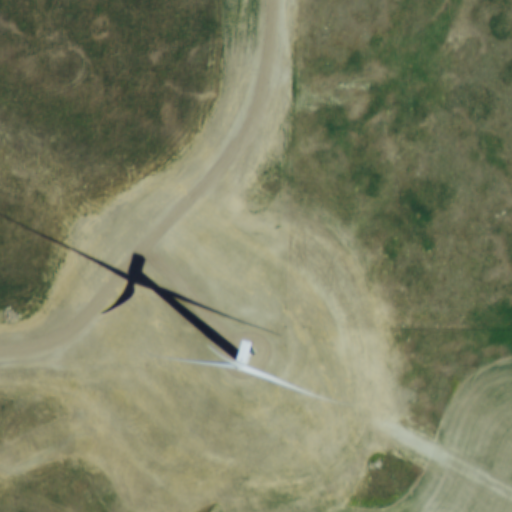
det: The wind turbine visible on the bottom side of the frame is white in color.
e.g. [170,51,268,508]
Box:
[155,338,364,407]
